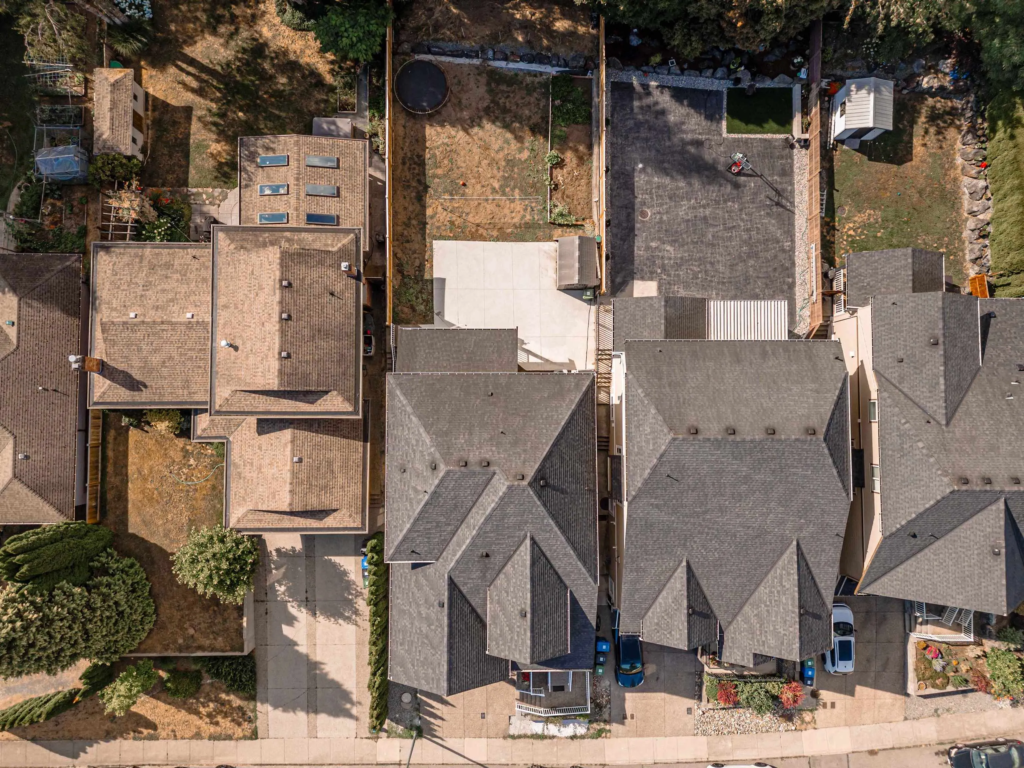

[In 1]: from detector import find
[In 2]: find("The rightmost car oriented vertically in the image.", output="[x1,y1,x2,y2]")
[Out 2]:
[820,602,859,677]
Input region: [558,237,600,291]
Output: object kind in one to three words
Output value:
shed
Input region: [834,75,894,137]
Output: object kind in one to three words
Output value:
shed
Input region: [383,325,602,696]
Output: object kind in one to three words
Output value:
house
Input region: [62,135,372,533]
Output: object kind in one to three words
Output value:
house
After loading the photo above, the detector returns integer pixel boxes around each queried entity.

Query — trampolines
[395,59,450,117]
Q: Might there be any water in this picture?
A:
No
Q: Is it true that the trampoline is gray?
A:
No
